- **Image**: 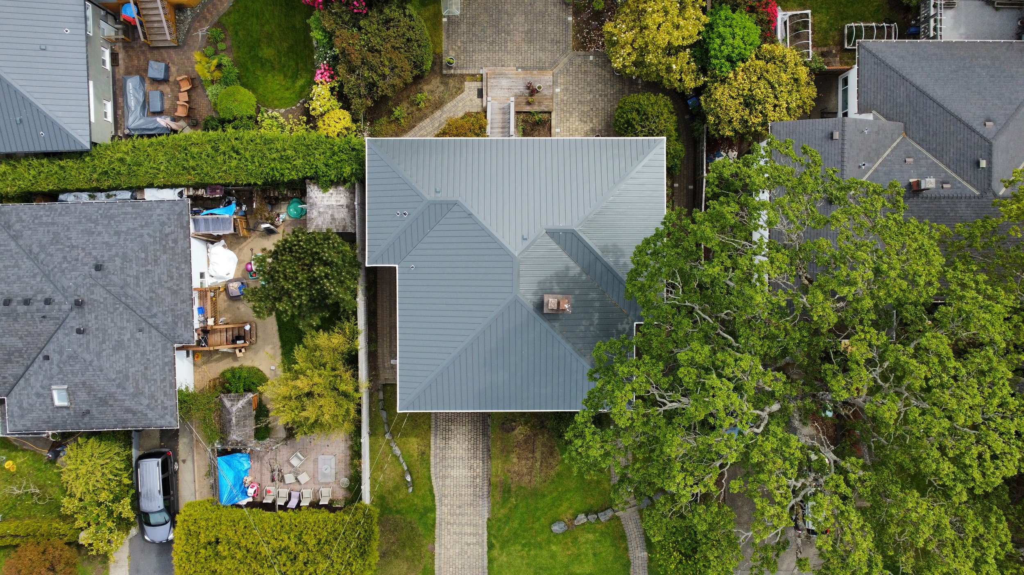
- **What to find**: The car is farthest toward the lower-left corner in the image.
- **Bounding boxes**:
[134,446,184,544]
